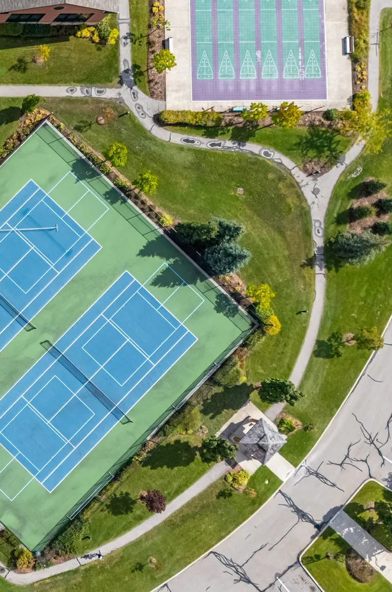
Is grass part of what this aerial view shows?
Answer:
Yes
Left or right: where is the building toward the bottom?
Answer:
right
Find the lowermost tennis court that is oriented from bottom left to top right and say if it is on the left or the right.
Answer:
left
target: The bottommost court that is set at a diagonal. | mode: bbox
[0,262,205,501]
